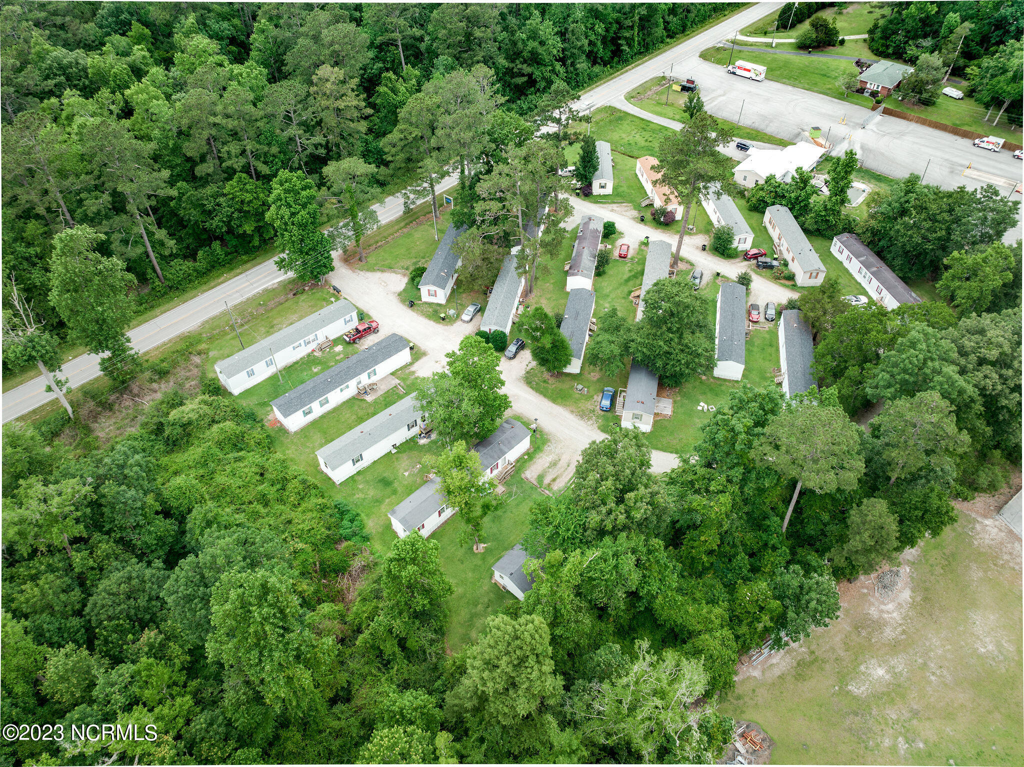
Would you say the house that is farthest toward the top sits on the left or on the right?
right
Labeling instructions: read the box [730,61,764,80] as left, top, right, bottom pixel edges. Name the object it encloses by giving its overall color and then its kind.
white vehicle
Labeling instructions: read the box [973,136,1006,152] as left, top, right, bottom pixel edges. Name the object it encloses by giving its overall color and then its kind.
white vehicle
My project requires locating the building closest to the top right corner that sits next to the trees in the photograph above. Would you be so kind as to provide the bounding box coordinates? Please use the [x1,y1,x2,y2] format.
[857,61,912,96]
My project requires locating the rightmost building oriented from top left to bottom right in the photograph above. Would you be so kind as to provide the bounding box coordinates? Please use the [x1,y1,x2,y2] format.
[830,233,920,319]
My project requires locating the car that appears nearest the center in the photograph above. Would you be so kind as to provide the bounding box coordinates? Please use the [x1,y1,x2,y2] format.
[505,339,524,358]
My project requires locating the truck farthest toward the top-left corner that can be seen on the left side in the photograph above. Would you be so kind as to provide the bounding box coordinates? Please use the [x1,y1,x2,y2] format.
[344,323,380,344]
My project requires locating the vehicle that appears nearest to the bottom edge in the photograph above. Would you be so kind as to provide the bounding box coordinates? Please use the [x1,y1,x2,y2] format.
[601,386,616,409]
